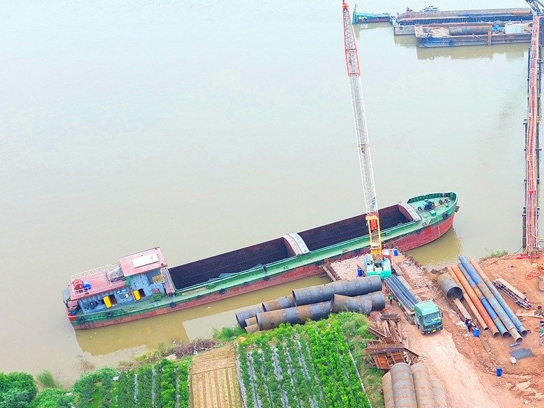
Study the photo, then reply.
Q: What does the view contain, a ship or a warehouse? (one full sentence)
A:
The image shows a ship.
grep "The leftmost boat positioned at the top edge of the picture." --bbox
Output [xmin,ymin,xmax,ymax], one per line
[353,0,393,23]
